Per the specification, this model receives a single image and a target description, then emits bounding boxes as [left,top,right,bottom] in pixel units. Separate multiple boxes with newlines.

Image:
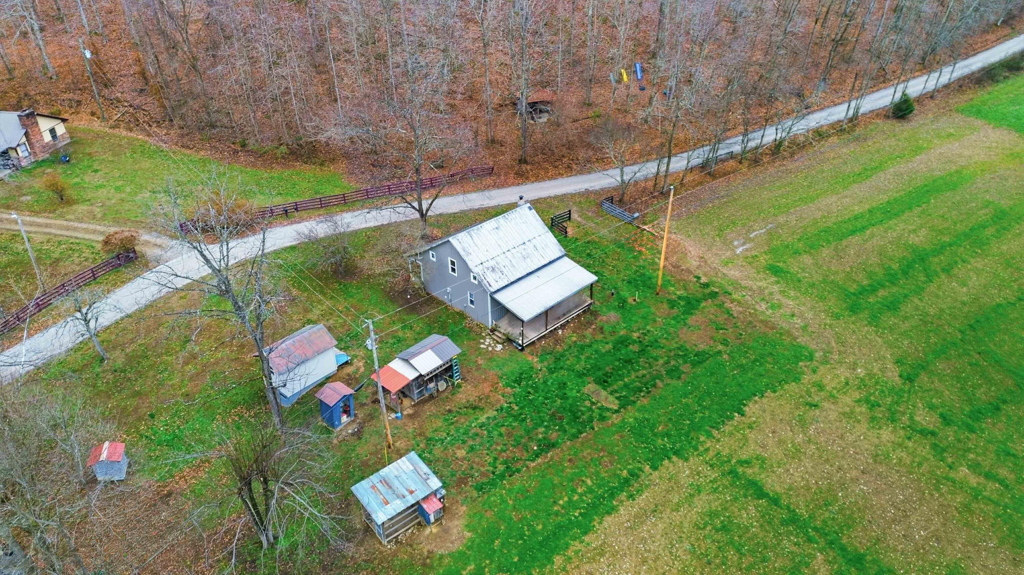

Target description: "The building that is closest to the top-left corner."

[0,110,74,181]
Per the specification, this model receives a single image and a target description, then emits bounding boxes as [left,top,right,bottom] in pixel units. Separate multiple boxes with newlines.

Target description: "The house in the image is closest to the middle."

[403,195,600,347]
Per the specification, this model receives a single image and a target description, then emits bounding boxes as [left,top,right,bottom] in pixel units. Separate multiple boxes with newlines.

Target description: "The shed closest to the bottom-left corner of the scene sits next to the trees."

[85,436,136,481]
